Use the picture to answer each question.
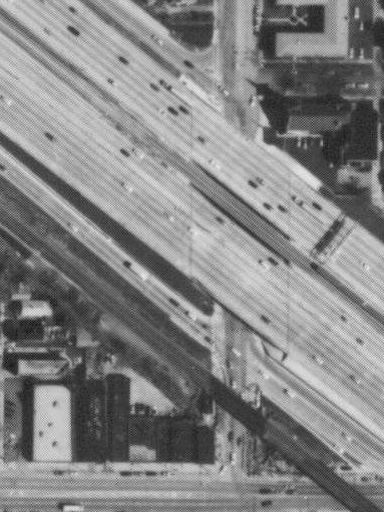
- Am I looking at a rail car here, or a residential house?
residential house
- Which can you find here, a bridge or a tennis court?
bridge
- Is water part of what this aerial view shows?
No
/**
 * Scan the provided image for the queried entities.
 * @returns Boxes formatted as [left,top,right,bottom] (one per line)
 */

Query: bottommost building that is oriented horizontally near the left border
[18,359,68,377]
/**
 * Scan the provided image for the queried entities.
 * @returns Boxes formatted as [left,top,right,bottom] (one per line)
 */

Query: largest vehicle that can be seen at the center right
[300,202,332,230]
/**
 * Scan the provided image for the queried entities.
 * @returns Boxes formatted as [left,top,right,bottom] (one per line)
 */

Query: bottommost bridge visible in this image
[300,448,370,512]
